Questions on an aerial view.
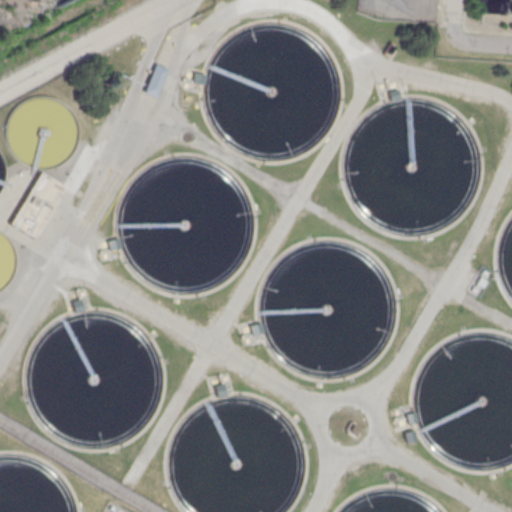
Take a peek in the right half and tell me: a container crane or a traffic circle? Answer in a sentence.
Looking in the right half, you will find a traffic circle.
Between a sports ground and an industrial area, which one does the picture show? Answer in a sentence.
The picture captures an industrial area.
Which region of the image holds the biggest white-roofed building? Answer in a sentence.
The biggest white-roofed building sits in the left section of the image.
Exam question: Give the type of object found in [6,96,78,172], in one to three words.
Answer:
storage tank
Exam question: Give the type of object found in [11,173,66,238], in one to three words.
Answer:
building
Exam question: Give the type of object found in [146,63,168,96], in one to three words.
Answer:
shed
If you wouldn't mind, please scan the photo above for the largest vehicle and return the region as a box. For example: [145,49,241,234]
[472,270,490,294]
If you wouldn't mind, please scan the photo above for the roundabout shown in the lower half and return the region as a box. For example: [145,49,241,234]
[318,396,380,458]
